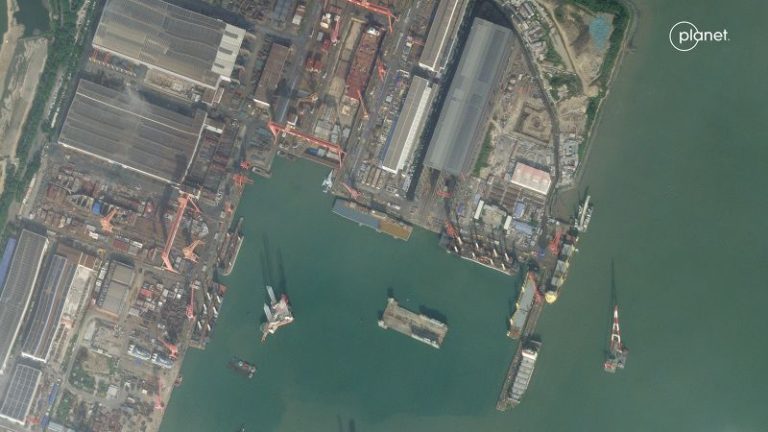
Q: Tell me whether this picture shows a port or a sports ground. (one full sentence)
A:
The area seen from above is a port.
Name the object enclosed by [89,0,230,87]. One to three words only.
shed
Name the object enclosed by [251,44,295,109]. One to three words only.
shed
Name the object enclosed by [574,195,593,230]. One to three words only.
ship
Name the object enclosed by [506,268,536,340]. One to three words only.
ship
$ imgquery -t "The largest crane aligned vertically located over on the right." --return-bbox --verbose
[602,304,629,376]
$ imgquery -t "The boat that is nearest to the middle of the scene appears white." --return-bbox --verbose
[320,170,334,190]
